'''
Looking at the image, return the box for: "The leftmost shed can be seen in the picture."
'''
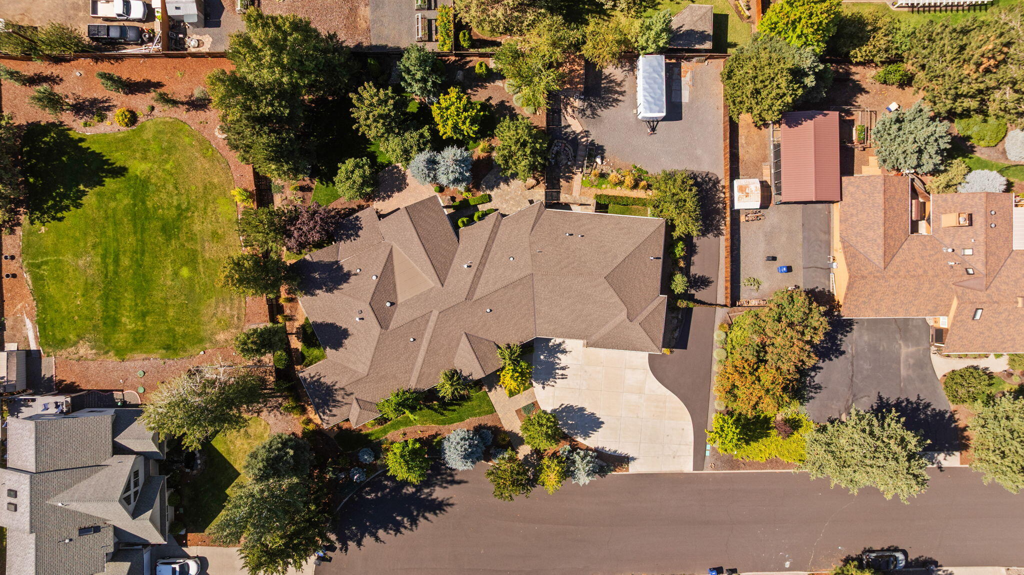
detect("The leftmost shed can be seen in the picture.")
[0,343,38,392]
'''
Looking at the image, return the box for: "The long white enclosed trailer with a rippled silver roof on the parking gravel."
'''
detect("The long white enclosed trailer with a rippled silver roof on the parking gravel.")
[633,56,664,139]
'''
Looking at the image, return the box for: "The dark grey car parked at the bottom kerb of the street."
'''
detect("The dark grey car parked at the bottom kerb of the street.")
[865,552,910,575]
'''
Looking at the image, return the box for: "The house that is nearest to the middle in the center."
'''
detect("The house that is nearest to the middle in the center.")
[286,194,667,429]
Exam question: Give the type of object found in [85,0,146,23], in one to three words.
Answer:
truck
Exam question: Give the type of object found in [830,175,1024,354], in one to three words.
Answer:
house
